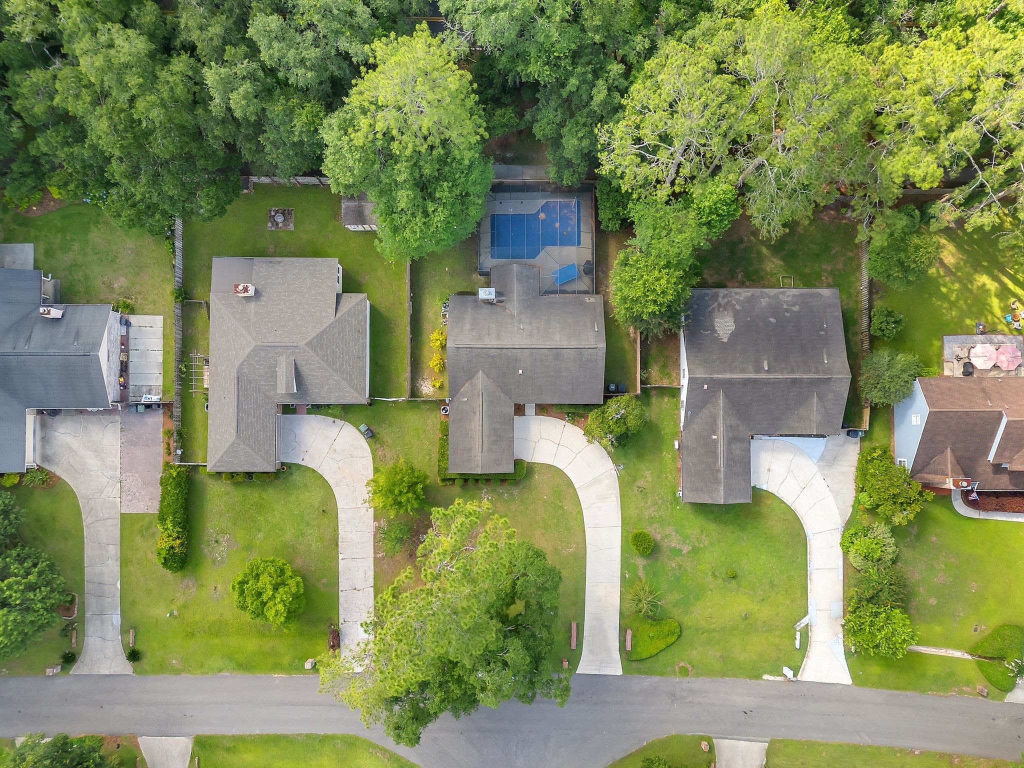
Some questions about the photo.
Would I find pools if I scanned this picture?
Yes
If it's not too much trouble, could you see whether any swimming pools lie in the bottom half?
No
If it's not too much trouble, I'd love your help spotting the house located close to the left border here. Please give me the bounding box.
[0,268,122,474]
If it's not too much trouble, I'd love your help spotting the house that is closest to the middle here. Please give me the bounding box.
[446,264,606,473]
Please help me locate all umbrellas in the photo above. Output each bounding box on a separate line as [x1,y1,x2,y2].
[996,345,1021,369]
[965,344,995,369]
